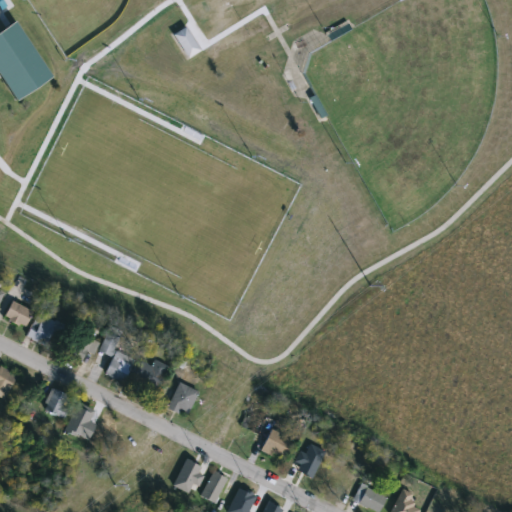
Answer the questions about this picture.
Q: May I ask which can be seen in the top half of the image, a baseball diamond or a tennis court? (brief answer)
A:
baseball diamond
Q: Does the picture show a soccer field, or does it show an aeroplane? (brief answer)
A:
soccer field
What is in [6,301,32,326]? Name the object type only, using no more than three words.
house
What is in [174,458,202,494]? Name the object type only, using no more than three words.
house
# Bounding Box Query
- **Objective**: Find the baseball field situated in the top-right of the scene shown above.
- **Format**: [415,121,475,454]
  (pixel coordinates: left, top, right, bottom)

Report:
[306,0,498,231]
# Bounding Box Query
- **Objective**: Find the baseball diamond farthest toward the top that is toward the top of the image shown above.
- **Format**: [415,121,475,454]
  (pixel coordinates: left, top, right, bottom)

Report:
[29,0,126,57]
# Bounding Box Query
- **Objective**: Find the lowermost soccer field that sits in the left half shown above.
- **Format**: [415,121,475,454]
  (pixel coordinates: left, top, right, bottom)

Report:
[34,90,290,311]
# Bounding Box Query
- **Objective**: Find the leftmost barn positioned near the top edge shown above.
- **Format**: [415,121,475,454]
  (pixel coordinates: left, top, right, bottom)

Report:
[0,22,54,100]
